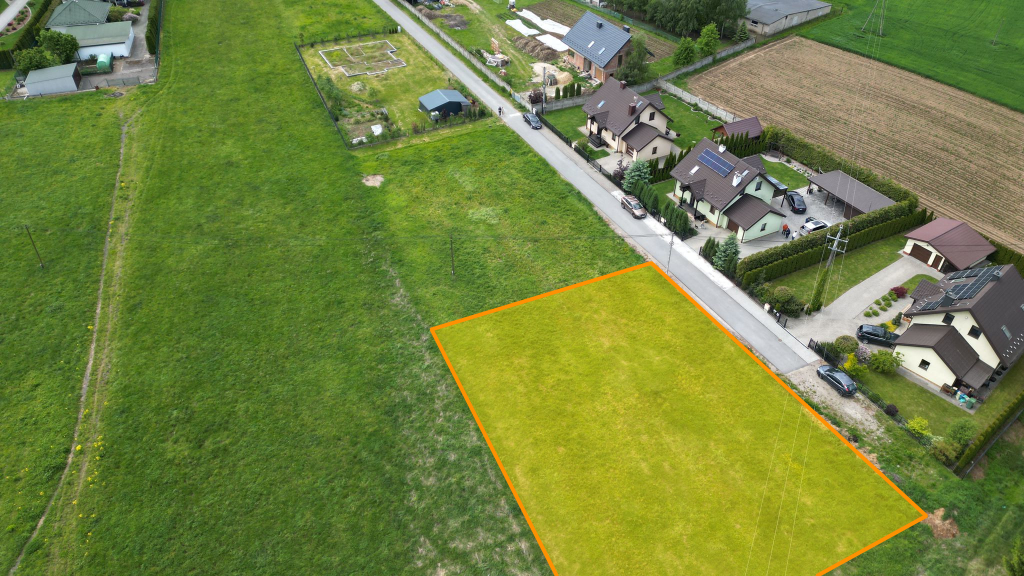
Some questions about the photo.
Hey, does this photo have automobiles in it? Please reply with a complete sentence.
Yes, the photo shows an automobile.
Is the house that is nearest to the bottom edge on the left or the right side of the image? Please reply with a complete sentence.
You can find the house that is nearest to the bottom edge on the right side of the picture.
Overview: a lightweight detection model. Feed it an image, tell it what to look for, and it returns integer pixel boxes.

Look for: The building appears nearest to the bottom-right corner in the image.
[890,263,1024,398]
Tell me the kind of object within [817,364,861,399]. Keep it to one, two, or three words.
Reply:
car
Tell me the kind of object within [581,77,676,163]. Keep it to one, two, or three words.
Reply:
house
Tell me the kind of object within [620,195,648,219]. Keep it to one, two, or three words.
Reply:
car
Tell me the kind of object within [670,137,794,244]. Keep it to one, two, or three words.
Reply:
house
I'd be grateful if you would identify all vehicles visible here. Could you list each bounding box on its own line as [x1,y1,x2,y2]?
[522,113,542,129]
[785,192,806,211]
[857,323,901,350]
[620,195,648,219]
[817,364,861,399]
[800,214,831,236]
